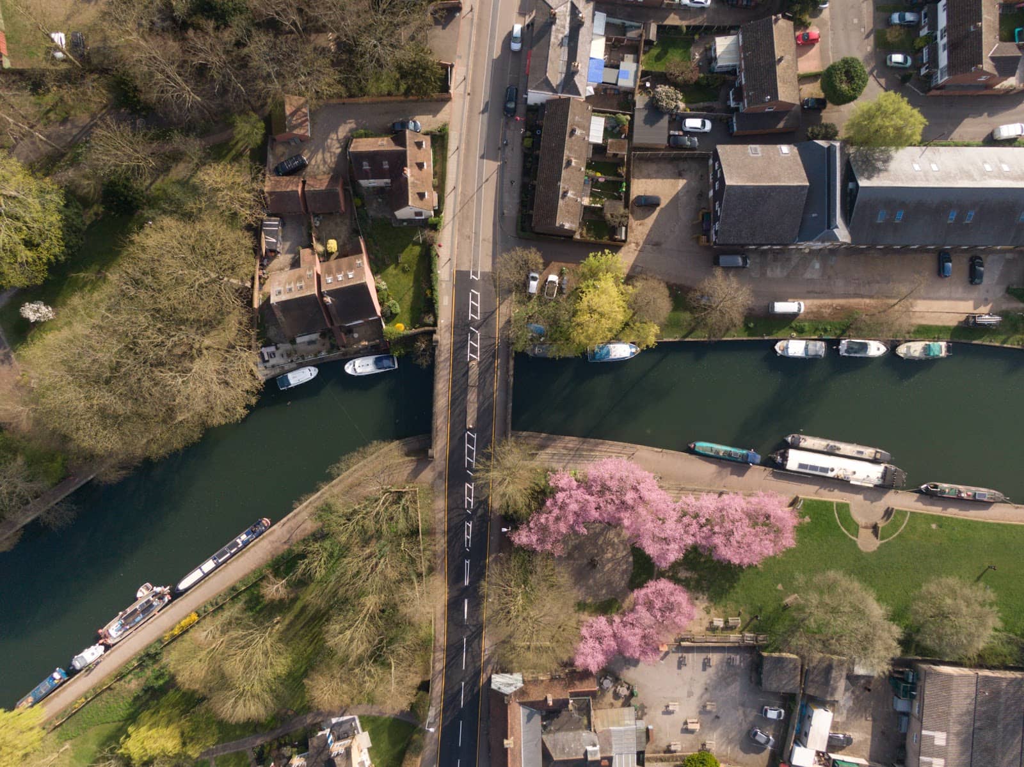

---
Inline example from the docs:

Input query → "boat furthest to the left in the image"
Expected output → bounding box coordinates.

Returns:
[19,666,72,701]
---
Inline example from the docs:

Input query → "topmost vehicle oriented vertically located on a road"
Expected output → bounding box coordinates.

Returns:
[509,22,523,52]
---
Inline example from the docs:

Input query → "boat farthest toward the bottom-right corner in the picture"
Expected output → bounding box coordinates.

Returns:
[919,482,1006,503]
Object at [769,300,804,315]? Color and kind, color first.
white vehicle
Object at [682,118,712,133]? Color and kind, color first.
white car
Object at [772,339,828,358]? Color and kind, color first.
white boat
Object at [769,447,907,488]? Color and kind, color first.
white vessel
